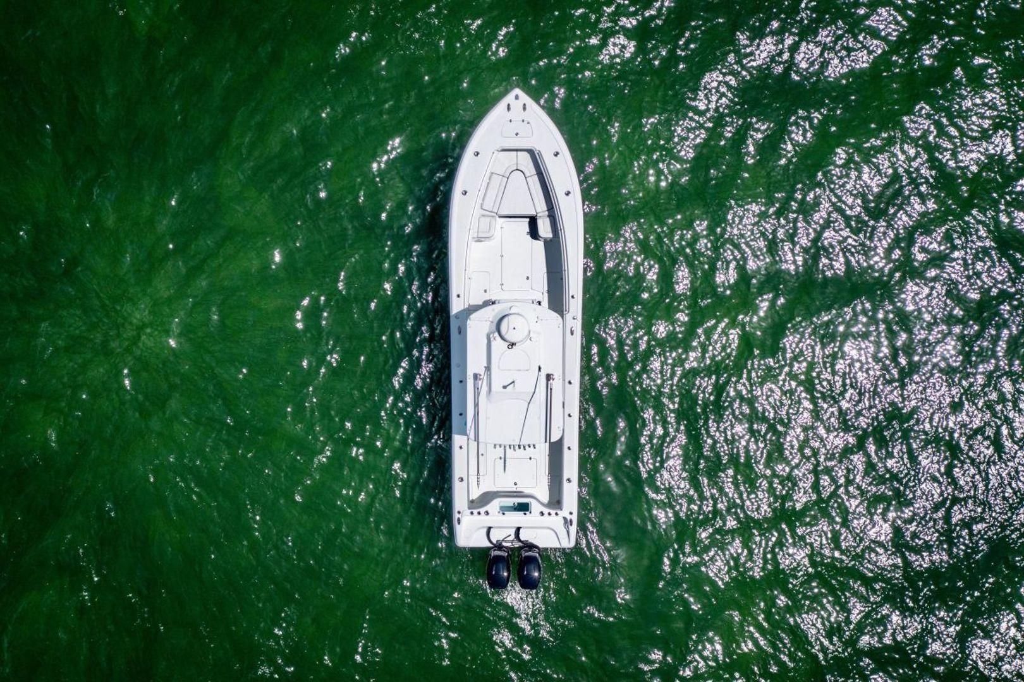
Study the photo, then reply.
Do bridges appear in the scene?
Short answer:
No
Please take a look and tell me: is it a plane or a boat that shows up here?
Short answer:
boat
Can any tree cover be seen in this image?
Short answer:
No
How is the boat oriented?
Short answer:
from top to bottom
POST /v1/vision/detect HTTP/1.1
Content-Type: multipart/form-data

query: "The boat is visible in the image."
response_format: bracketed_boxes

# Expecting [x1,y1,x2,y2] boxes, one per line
[448,86,585,589]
